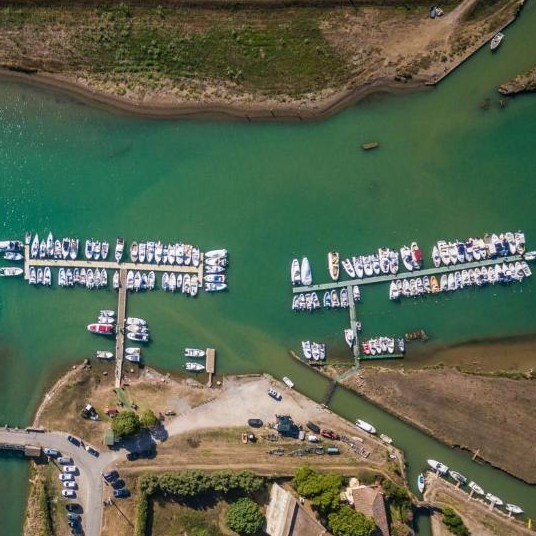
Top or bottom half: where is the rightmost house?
bottom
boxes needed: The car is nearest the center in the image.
[267,388,283,401]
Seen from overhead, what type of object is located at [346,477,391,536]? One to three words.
house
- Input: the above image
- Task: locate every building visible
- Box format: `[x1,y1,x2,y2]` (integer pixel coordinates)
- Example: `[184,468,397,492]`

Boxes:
[103,427,114,445]
[260,478,330,536]
[274,416,294,433]
[346,477,391,536]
